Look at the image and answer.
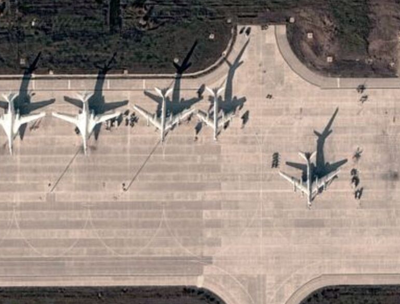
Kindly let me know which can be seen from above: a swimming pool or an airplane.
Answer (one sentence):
Visible in the photo is an airplane.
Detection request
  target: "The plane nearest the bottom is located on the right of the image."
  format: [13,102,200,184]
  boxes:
[278,150,338,205]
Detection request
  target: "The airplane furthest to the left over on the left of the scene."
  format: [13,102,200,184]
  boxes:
[0,94,45,153]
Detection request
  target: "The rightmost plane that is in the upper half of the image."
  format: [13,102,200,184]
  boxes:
[196,83,234,139]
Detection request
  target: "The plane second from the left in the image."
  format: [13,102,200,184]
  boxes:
[52,93,119,153]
